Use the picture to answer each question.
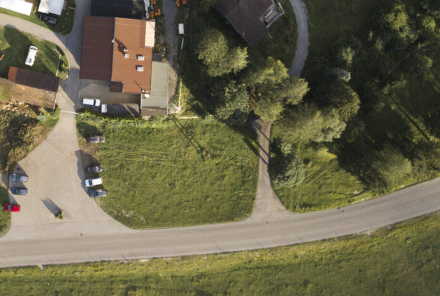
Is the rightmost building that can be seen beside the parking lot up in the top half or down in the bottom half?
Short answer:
top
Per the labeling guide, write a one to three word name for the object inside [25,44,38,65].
vehicle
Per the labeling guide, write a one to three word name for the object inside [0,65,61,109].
shed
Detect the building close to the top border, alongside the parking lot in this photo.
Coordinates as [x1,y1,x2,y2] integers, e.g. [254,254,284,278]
[80,0,168,115]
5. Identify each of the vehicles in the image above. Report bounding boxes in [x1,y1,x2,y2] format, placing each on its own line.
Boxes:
[87,164,102,174]
[5,202,21,212]
[87,134,106,144]
[12,172,30,182]
[39,13,57,24]
[88,188,107,197]
[84,177,102,185]
[25,44,38,65]
[82,97,101,107]
[101,102,140,118]
[11,187,27,195]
